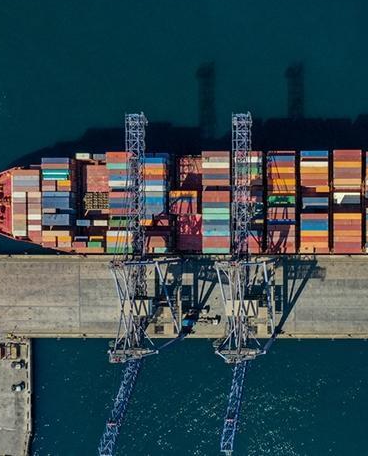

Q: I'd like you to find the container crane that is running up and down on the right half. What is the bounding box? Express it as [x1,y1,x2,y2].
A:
[215,112,284,456]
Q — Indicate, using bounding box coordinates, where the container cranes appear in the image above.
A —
[90,112,193,456]
[215,112,284,456]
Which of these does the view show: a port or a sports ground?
port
